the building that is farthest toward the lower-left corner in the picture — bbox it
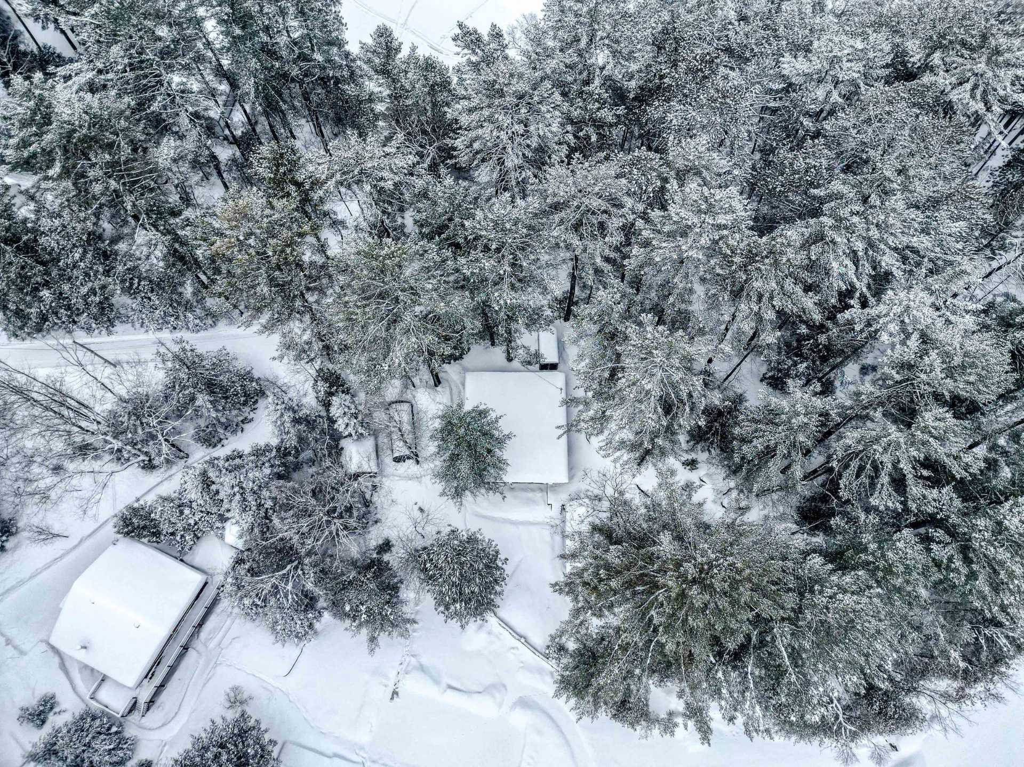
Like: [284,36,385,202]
[48,535,205,692]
